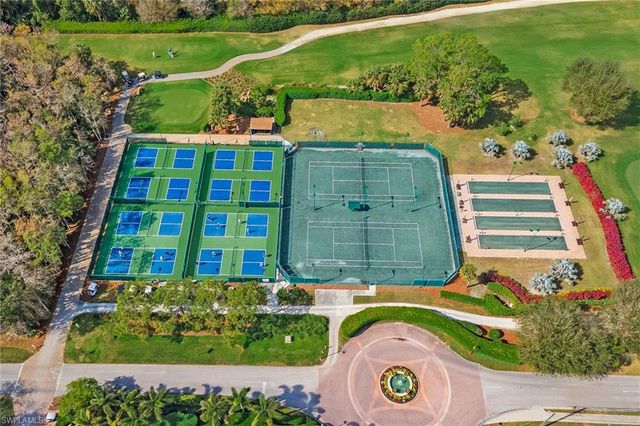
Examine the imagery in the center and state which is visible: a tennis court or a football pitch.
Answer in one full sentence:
The feature located in the center is a tennis court.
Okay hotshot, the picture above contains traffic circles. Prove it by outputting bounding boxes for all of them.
[318,322,491,426]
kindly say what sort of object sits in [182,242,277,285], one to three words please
sports court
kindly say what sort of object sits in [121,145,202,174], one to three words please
sports court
